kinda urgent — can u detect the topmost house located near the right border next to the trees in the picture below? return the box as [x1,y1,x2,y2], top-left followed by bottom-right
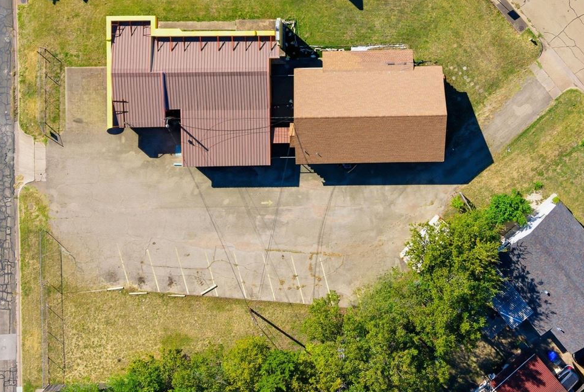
[493,202,584,355]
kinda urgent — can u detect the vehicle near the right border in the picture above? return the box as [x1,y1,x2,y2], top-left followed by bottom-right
[556,356,584,392]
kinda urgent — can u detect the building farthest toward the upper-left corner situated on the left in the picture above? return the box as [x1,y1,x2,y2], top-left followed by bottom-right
[105,16,279,167]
